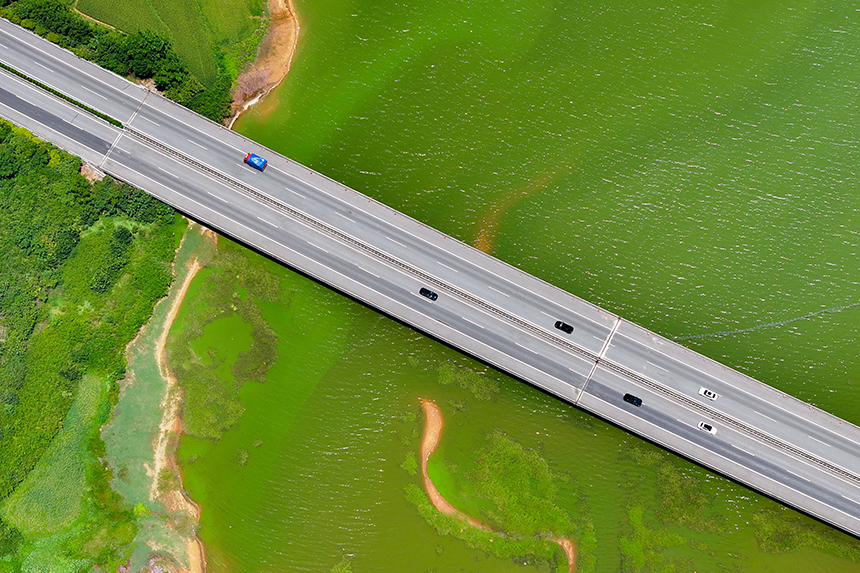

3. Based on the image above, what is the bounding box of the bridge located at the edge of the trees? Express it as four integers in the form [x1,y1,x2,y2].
[98,88,860,534]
